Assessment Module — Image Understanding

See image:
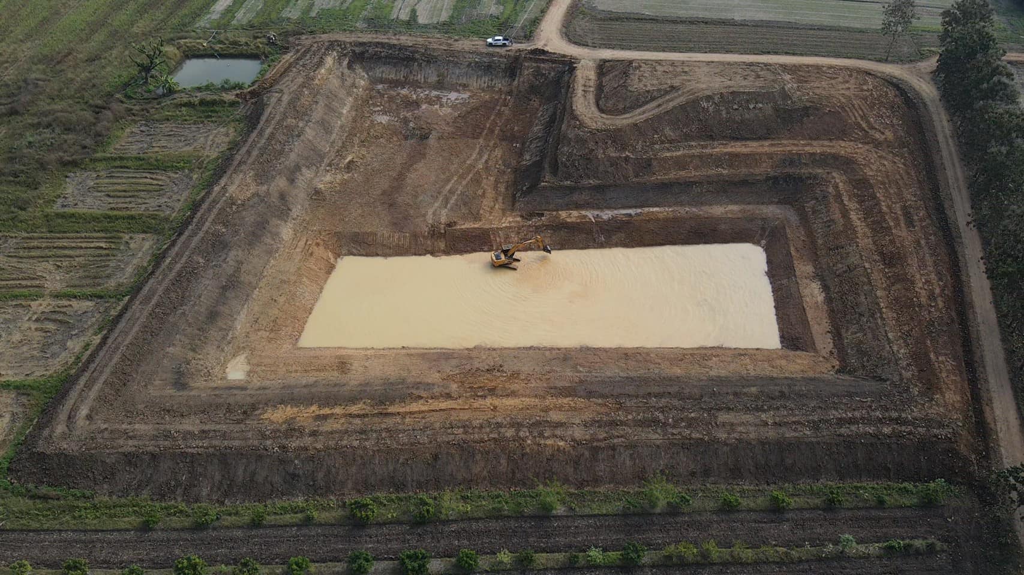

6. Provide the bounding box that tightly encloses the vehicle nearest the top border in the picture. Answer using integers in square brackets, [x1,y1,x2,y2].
[487,35,513,47]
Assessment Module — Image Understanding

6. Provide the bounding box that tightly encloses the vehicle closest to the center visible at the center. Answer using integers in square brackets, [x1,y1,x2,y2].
[485,234,550,273]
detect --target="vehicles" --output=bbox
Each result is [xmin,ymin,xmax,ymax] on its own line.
[485,234,550,273]
[487,35,513,47]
